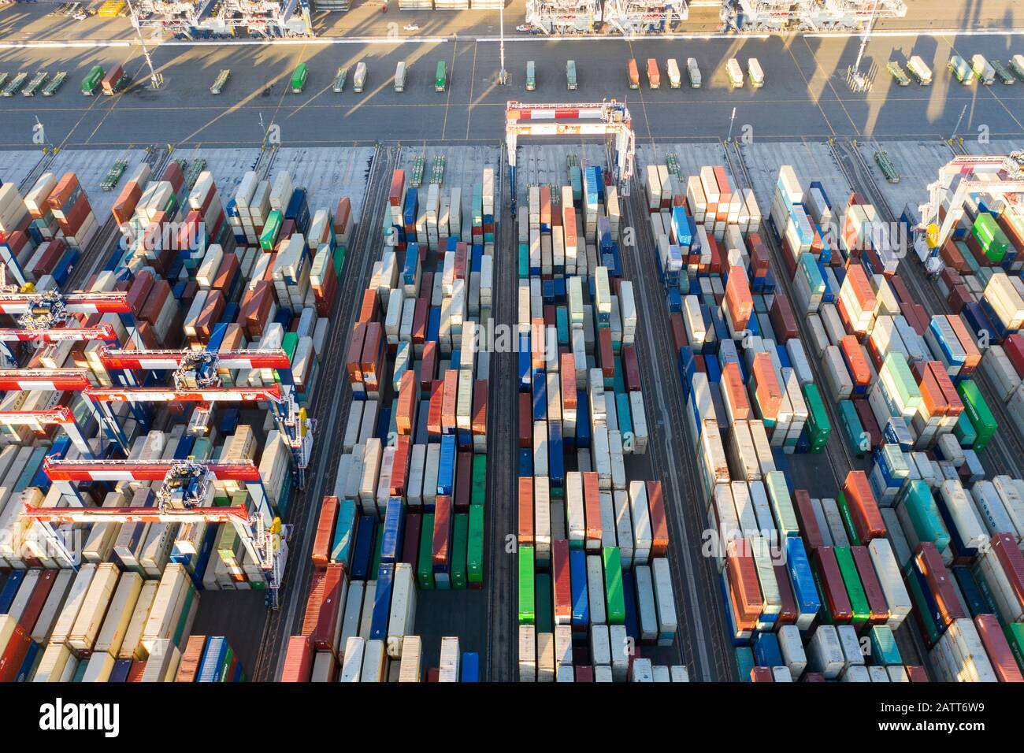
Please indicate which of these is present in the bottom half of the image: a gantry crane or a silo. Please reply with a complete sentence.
It is a gantry crane that can be seen in the bottom half of the image.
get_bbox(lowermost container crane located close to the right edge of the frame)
[895,146,1024,271]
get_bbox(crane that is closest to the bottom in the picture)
[31,451,302,618]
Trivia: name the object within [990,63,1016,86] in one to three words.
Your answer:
vehicle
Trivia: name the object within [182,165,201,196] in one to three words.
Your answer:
vehicle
